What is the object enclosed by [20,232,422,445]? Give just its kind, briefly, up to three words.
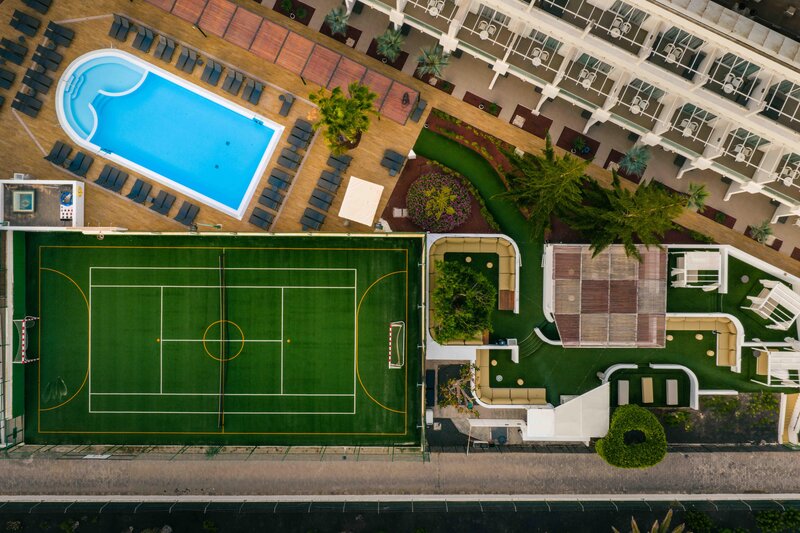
sports court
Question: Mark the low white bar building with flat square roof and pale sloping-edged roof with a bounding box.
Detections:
[517,381,609,448]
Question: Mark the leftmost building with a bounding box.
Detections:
[0,179,85,232]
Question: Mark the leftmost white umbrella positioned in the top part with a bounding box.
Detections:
[338,176,384,227]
